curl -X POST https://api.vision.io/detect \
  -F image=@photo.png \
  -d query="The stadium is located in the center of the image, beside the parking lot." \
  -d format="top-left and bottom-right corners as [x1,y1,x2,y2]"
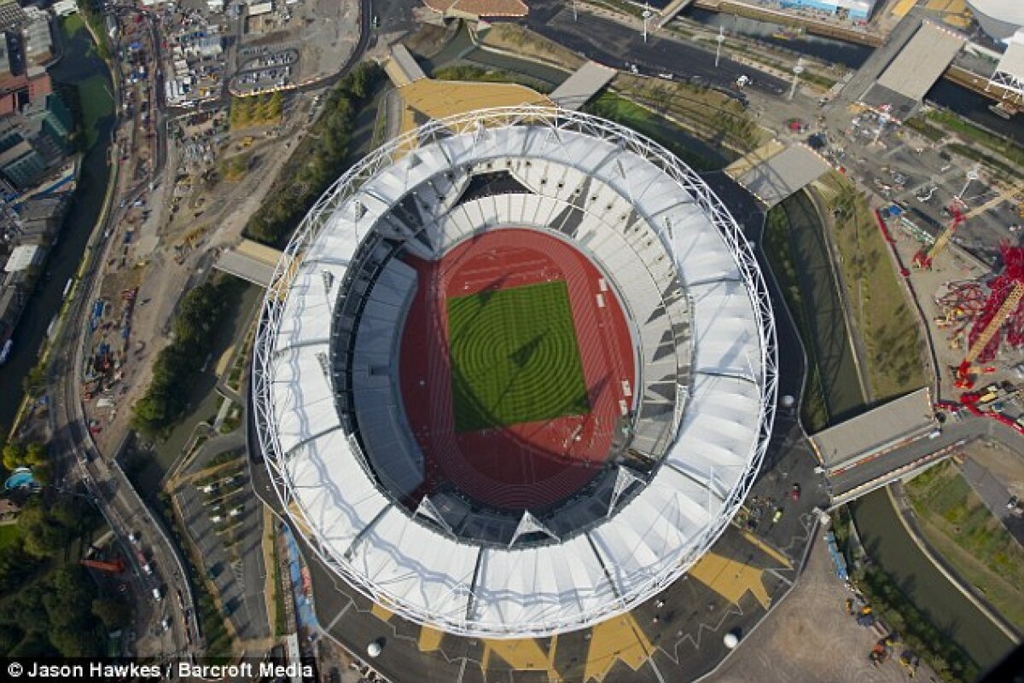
[253,104,780,641]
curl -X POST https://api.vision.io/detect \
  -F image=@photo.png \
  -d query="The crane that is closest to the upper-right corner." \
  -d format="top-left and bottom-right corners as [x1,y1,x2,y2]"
[910,183,1024,267]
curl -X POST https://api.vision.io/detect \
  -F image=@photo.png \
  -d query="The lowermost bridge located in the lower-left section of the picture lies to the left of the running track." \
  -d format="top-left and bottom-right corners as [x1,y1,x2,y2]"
[72,408,201,683]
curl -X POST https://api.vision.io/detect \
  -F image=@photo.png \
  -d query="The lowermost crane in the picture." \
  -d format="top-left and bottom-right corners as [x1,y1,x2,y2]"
[954,283,1024,388]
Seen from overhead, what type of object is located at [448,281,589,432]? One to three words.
sports field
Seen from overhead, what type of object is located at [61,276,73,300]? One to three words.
boat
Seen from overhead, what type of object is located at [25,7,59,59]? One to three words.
building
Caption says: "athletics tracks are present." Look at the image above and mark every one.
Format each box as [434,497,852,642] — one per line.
[428,231,622,505]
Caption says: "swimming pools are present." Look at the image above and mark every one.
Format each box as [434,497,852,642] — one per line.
[2,466,35,489]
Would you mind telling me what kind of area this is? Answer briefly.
sports ground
